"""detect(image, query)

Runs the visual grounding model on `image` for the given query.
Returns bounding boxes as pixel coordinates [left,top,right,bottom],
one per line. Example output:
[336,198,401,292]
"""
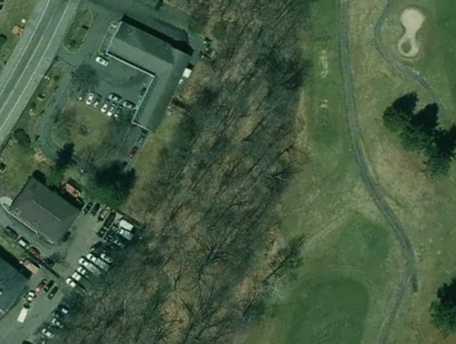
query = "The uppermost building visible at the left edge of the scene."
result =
[9,176,82,243]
